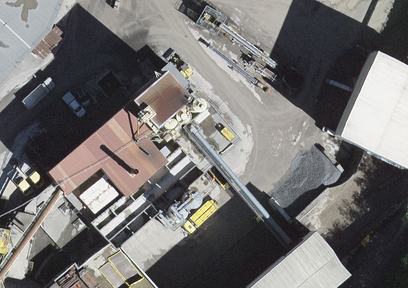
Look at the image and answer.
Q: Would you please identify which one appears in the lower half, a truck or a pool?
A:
truck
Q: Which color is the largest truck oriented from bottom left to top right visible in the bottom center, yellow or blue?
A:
yellow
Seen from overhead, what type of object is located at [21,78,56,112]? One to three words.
truck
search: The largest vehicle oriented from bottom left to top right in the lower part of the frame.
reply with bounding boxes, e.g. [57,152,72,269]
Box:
[186,199,220,232]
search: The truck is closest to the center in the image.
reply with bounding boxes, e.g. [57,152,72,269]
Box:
[215,120,240,146]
